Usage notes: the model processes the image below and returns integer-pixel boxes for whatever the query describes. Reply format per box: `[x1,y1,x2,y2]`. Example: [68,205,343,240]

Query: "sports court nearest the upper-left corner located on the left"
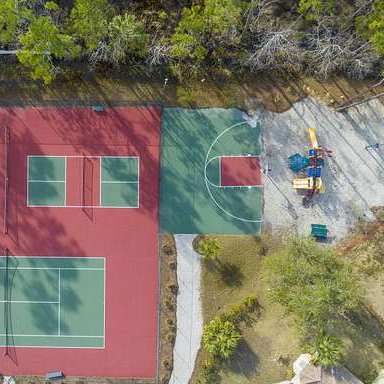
[28,156,139,208]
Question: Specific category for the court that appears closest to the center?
basketball court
